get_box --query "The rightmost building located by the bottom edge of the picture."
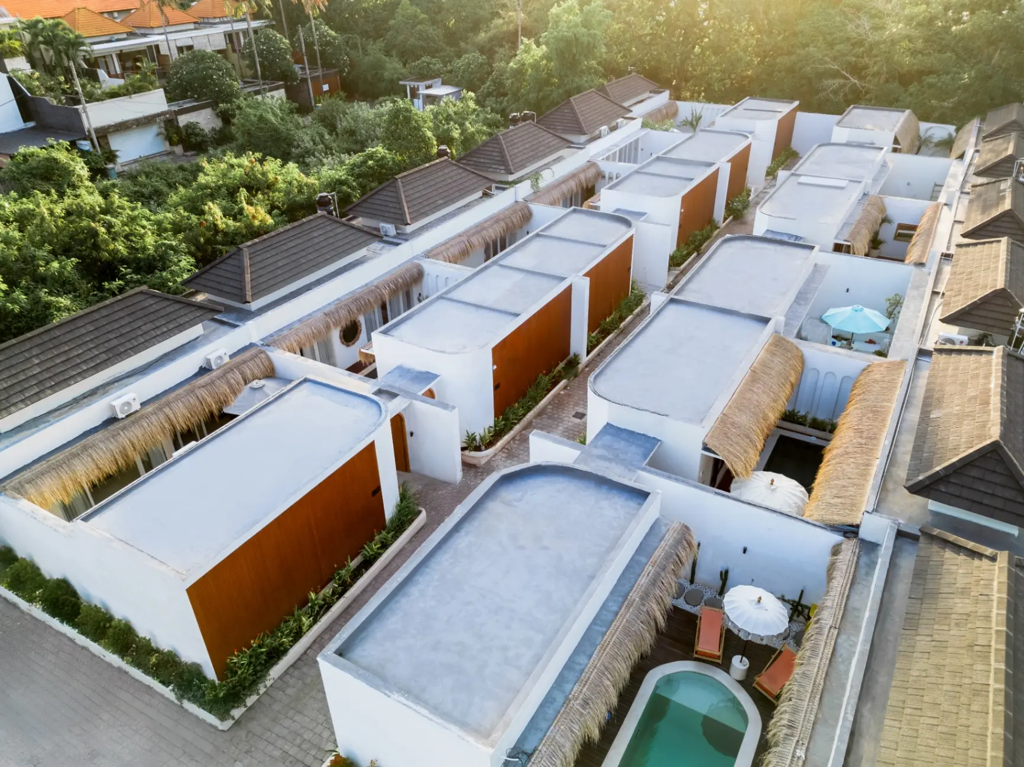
[867,519,1024,767]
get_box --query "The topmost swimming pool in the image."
[752,427,826,490]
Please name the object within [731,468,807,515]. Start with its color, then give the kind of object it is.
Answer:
white umbrella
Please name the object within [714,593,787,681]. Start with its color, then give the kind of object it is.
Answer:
white umbrella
